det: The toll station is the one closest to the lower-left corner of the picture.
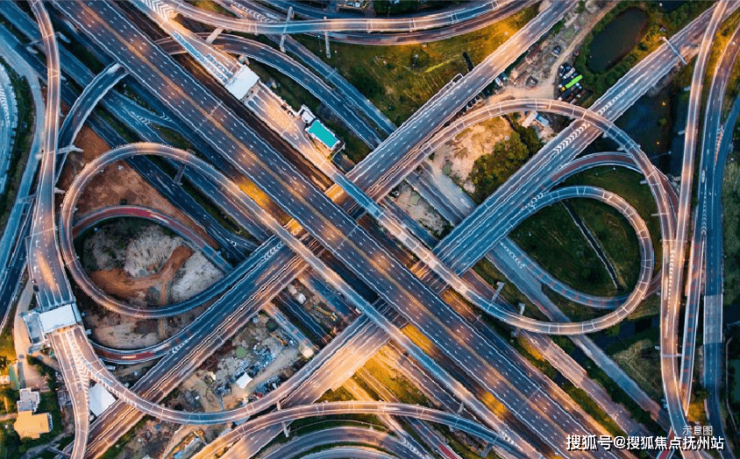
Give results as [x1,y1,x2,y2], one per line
[37,297,81,338]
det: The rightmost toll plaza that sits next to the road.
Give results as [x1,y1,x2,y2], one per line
[223,63,265,105]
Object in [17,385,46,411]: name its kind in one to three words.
house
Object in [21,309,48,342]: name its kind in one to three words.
building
